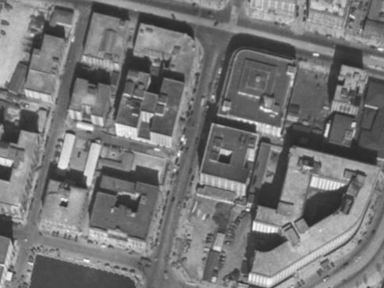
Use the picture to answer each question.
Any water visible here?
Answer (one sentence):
No, there is no water in the image.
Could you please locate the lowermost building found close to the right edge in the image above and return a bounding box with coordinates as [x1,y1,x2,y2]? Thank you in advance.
[249,146,380,288]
